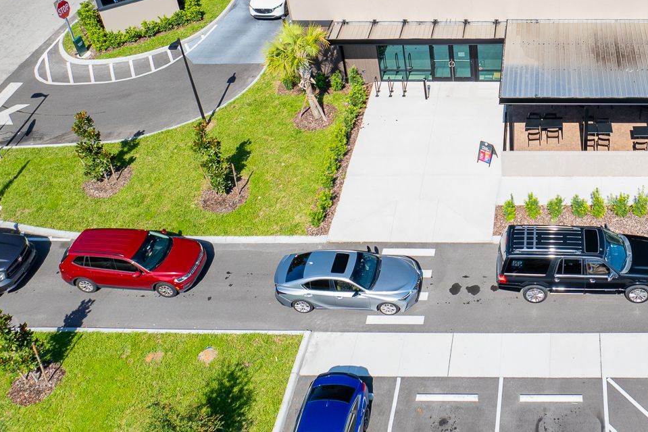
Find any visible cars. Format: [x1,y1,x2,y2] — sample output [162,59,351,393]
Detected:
[283,371,360,432]
[54,224,206,298]
[251,0,288,17]
[271,242,420,313]
[494,222,648,303]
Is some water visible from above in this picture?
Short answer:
No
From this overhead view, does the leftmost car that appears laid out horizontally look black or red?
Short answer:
red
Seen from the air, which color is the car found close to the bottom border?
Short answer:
blue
